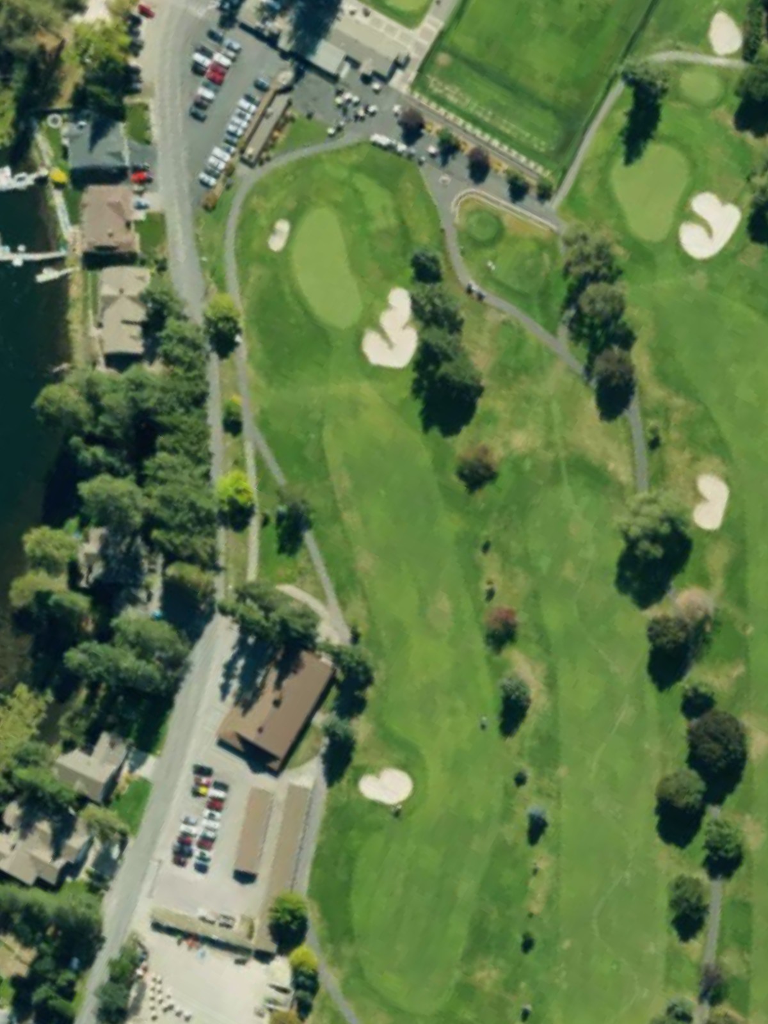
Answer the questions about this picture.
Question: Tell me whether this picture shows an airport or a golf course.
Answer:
golf course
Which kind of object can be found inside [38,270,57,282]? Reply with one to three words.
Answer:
boat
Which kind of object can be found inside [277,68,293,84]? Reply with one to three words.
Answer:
gazebo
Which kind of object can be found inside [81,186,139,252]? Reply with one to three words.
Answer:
house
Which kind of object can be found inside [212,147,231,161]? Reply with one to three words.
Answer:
vehicle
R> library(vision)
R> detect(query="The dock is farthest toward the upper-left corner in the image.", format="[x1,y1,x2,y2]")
[0,165,51,195]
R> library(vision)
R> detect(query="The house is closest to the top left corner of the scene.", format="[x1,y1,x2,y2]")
[66,120,130,168]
